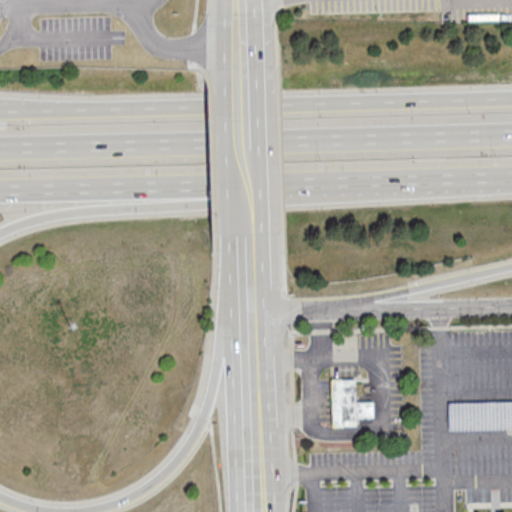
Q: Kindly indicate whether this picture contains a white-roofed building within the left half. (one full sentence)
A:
No, there's no white-roofed building to be seen within the left half.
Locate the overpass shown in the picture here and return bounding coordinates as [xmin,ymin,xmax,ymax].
[207,76,286,234]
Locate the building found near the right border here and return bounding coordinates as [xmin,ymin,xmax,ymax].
[448,402,512,436]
